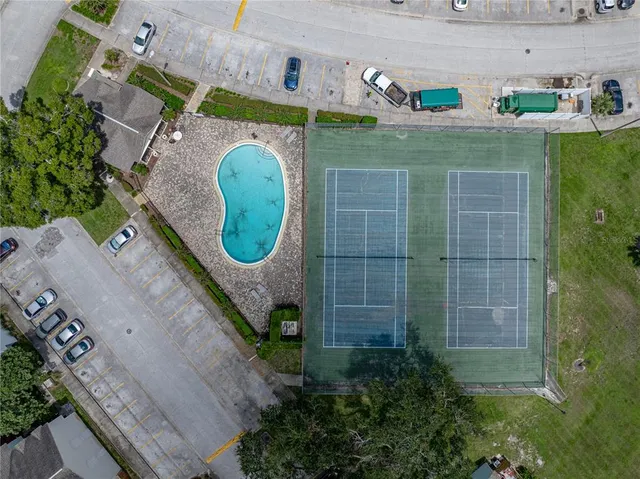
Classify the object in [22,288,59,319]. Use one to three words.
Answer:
car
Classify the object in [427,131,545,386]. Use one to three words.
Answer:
tennis court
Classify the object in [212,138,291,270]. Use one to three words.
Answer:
swimming pool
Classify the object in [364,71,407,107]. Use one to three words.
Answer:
truck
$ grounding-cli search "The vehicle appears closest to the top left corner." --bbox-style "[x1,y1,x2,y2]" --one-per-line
[133,21,155,56]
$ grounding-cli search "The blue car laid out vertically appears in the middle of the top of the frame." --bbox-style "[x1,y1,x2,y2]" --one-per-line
[283,58,299,91]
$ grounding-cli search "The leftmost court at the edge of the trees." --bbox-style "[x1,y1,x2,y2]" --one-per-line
[304,128,427,387]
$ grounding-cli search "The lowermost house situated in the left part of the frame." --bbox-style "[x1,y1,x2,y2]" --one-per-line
[0,412,122,479]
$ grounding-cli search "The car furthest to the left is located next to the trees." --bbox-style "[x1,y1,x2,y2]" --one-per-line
[0,235,21,263]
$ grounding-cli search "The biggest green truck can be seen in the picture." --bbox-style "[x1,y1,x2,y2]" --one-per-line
[498,91,563,114]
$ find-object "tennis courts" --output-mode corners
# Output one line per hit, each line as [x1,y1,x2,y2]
[304,128,427,387]
[427,131,545,386]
